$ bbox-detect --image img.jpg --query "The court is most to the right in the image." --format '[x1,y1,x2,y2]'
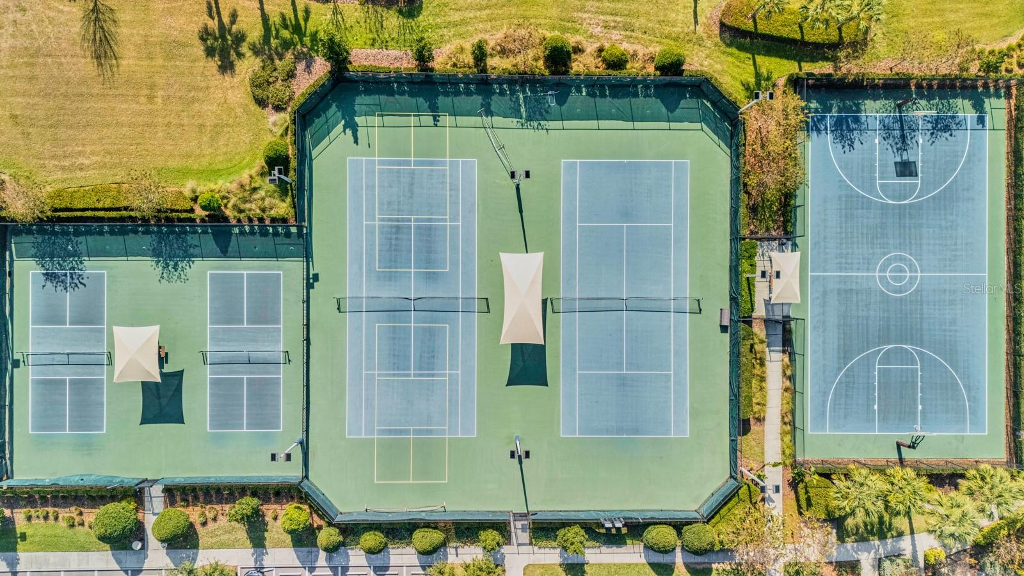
[794,88,1005,459]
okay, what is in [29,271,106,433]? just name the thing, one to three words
sports court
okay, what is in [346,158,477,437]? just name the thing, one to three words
tennis court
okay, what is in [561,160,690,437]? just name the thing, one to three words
tennis court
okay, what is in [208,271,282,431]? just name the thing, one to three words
sports court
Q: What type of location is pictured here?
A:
sports ground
